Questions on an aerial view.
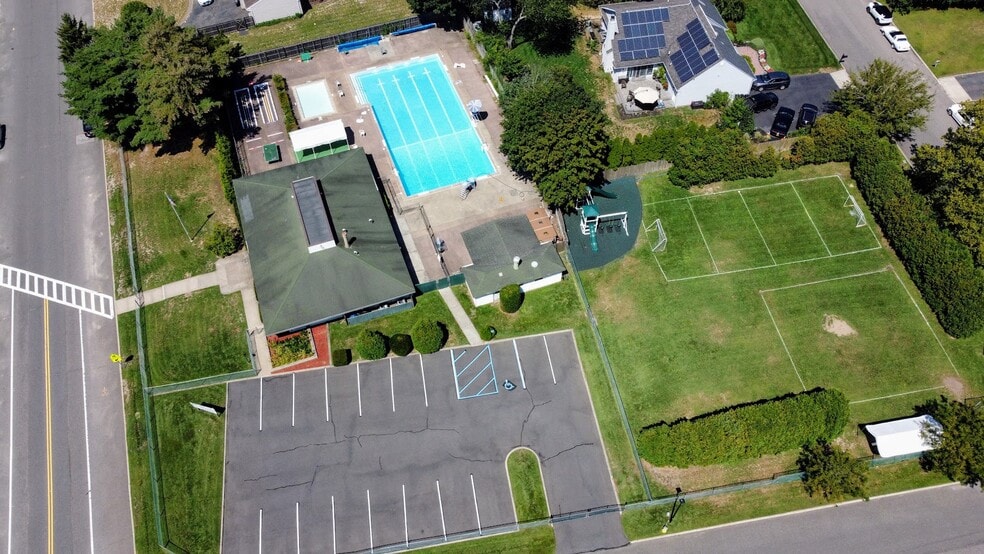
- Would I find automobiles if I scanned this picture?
Yes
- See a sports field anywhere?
Yes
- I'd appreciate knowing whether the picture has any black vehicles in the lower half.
No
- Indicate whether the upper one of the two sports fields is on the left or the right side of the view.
right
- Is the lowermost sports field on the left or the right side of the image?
right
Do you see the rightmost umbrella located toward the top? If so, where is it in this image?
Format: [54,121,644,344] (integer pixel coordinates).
[635,80,666,101]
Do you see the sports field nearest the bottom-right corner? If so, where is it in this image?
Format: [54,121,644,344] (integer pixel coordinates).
[749,262,968,403]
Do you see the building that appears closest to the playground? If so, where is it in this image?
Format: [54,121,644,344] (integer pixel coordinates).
[459,214,565,306]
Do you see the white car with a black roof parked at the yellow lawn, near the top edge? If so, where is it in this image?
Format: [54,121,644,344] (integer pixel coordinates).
[866,0,898,23]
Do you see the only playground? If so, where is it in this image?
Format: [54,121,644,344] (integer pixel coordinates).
[577,186,629,252]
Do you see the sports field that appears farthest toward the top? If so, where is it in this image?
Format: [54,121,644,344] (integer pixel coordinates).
[640,176,882,282]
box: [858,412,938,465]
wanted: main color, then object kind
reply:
white tent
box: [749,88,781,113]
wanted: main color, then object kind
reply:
black car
